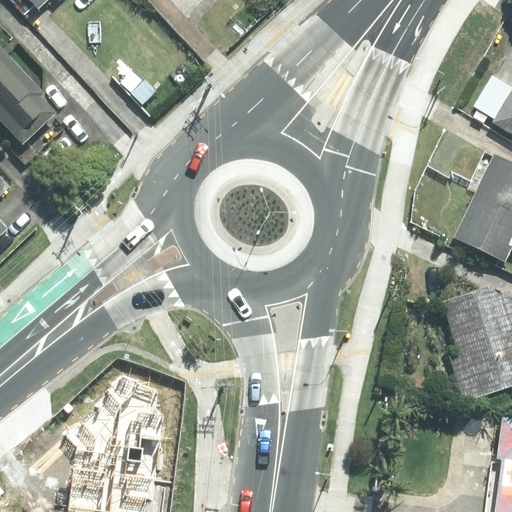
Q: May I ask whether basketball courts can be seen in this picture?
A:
No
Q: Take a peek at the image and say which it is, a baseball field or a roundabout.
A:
roundabout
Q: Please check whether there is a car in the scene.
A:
Yes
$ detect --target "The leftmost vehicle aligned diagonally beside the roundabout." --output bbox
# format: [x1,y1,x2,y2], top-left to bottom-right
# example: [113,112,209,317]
[120,220,155,251]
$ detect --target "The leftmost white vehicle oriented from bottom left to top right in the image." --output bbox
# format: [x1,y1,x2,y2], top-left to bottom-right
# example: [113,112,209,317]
[6,208,33,236]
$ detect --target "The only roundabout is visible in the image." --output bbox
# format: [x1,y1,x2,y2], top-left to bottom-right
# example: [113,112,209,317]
[155,132,364,320]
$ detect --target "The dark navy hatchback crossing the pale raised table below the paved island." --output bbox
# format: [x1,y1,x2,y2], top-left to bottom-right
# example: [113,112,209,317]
[132,290,166,308]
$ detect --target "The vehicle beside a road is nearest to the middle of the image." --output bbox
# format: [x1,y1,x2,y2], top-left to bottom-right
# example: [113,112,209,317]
[228,288,252,321]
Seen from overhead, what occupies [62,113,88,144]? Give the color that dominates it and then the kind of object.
white car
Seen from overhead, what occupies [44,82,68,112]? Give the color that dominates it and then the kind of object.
white car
